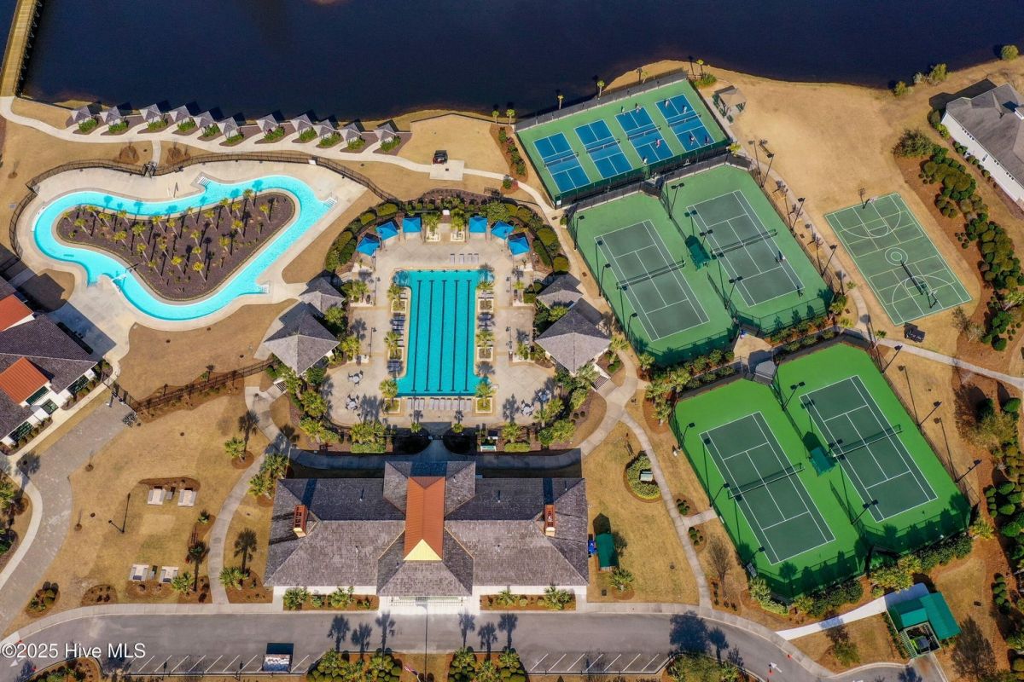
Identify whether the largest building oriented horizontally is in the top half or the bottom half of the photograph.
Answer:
bottom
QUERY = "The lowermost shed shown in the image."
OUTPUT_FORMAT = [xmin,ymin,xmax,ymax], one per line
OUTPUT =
[887,592,964,657]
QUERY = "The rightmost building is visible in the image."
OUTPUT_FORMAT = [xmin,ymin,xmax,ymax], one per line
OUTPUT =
[941,79,1024,220]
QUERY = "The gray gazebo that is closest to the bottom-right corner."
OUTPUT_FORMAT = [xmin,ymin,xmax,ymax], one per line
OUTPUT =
[749,361,778,391]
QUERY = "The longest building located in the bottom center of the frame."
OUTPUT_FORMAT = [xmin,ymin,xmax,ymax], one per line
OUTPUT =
[264,461,589,611]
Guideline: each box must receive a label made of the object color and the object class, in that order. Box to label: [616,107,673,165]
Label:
blue sports court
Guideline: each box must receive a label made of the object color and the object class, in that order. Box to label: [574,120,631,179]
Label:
blue sports court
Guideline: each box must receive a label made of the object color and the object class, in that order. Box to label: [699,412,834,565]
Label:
green tennis court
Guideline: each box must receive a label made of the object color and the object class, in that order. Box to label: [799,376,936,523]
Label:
green tennis court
